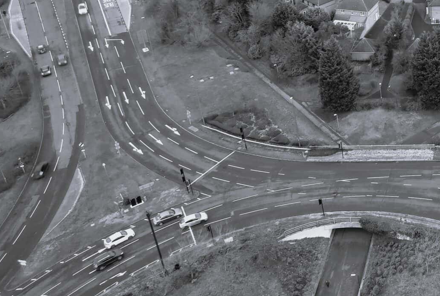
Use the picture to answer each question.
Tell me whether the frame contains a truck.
No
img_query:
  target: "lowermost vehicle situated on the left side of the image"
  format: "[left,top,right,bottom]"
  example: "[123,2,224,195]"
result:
[89,249,126,272]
